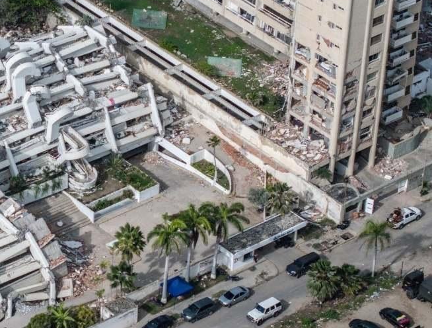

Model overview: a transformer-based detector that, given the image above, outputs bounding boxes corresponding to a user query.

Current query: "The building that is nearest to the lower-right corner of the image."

[218,210,310,275]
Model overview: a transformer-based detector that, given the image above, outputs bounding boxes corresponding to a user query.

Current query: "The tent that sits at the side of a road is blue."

[157,274,196,311]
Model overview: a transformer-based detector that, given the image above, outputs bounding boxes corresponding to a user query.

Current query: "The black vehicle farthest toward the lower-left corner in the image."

[139,309,178,328]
